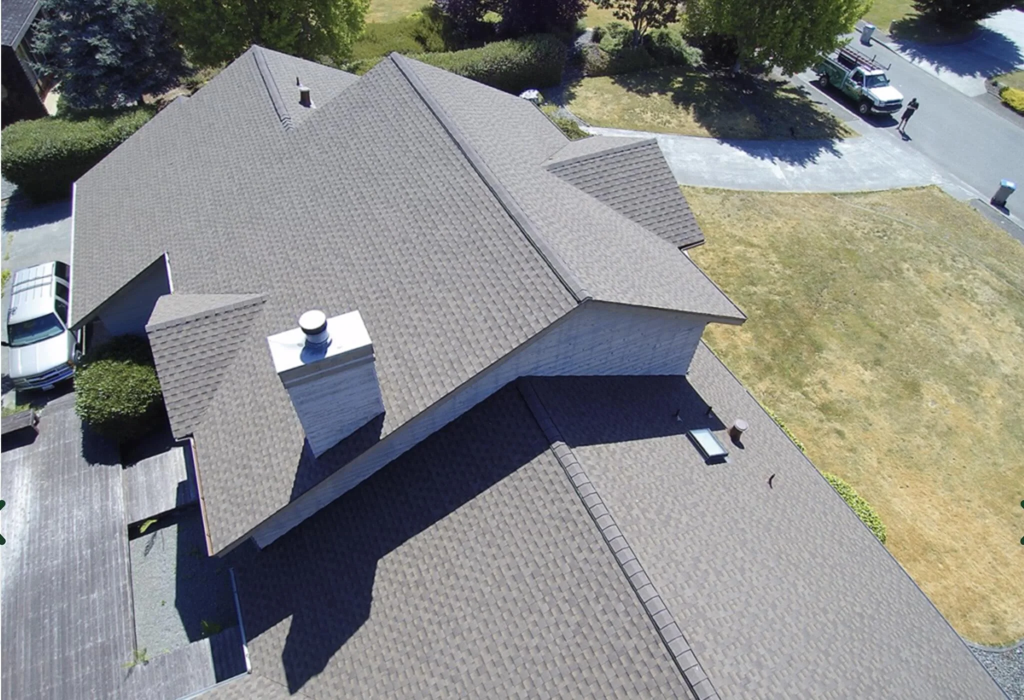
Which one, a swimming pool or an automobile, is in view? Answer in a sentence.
The image shows an automobile.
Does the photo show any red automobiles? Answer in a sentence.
No, no red automobile is visible in the scene.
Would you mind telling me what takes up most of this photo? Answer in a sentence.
For the most part, this view shows buildings.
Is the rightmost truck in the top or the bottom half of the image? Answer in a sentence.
The top half of the photo is where the rightmost truck is.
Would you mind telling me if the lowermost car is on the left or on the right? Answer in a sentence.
It is on the left.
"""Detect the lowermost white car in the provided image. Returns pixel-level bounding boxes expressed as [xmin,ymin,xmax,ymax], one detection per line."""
[1,264,87,395]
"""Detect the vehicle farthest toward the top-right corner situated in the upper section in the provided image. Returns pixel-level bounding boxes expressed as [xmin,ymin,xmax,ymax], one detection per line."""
[804,36,908,121]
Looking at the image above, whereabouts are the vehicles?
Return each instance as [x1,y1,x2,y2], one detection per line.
[804,36,908,121]
[1,264,87,395]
